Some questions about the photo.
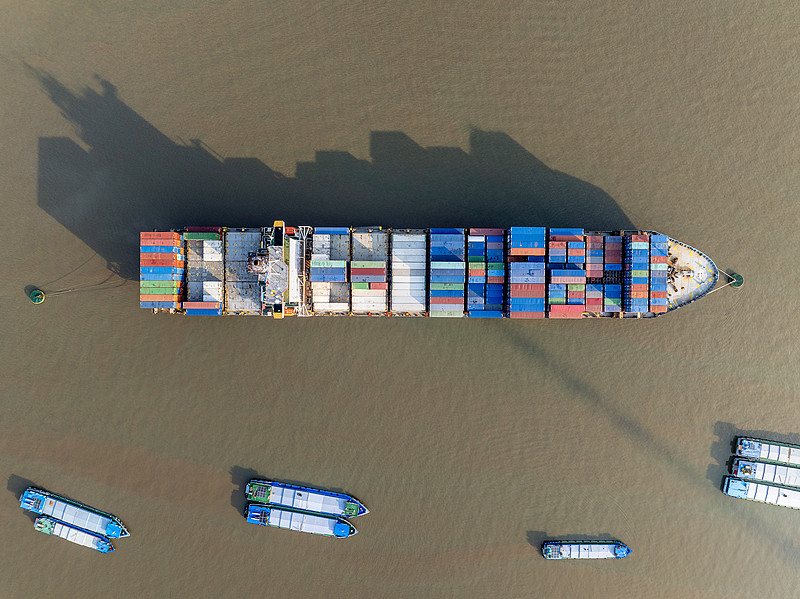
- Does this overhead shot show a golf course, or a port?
port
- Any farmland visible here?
No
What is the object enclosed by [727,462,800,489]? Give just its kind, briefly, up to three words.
ship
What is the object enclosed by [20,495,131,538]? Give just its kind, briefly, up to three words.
ship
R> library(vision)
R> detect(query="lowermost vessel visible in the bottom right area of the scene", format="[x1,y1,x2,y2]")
[540,538,631,559]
